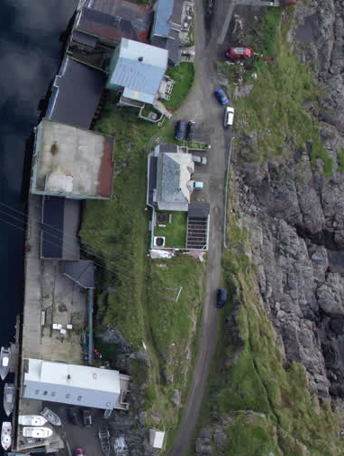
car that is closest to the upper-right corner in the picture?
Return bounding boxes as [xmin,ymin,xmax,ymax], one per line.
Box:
[227,45,252,58]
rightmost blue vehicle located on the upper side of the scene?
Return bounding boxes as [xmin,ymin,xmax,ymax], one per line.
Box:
[215,86,230,106]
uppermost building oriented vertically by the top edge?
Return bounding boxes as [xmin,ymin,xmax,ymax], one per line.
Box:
[150,0,184,66]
